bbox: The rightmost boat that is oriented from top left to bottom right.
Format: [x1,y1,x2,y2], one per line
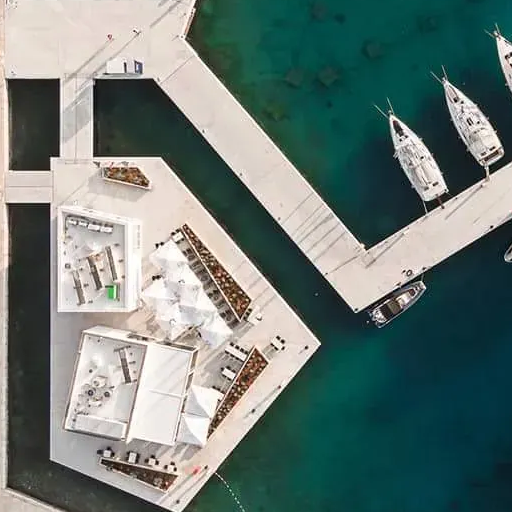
[432,67,508,170]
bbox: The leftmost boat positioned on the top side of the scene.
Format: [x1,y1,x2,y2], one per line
[381,101,454,214]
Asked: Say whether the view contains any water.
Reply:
Yes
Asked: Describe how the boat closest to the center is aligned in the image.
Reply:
diagonally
